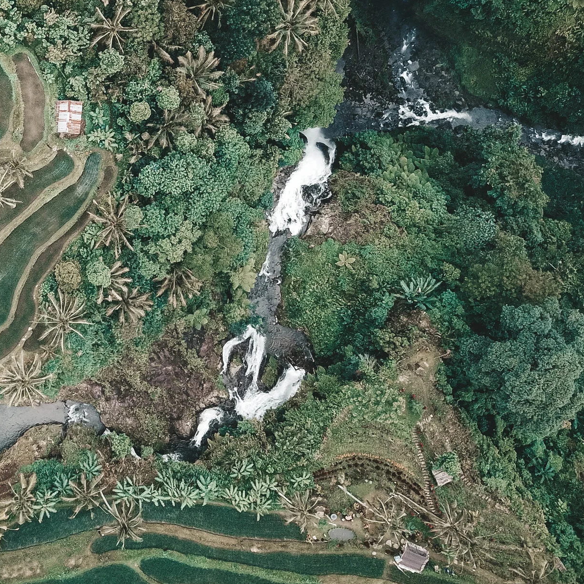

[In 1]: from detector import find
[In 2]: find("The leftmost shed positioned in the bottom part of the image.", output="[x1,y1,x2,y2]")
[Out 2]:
[398,541,428,570]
